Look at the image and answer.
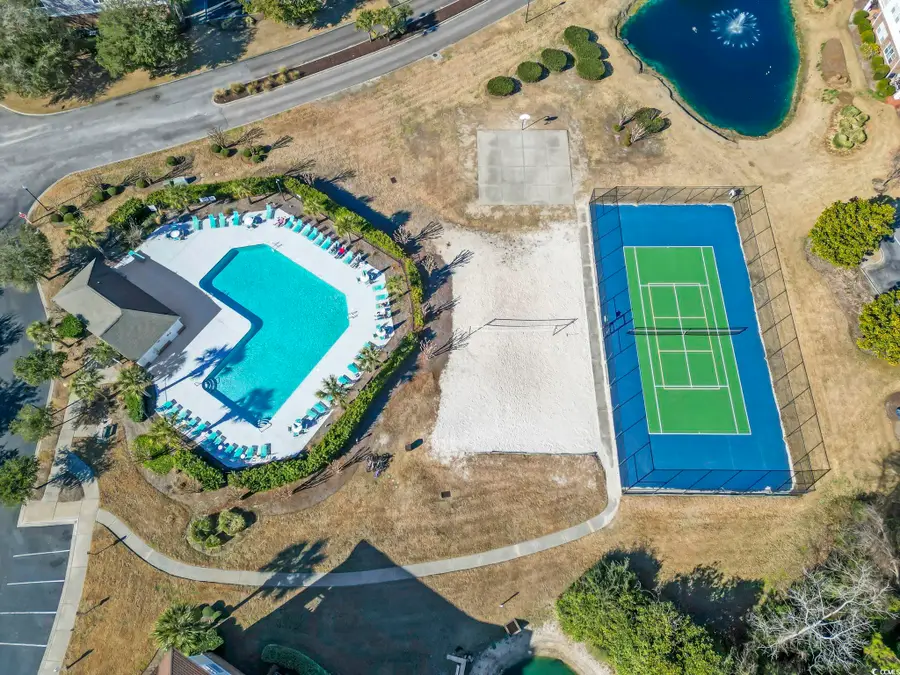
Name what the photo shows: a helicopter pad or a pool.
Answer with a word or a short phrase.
pool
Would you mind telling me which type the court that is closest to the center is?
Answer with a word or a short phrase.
basketball court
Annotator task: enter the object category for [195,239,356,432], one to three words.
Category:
swimming pool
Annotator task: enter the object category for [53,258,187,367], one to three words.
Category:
building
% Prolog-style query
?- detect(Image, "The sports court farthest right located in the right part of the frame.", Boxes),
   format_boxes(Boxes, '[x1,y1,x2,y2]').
[587,201,795,495]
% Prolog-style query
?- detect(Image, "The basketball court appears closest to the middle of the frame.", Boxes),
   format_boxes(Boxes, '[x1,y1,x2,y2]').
[477,129,574,205]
